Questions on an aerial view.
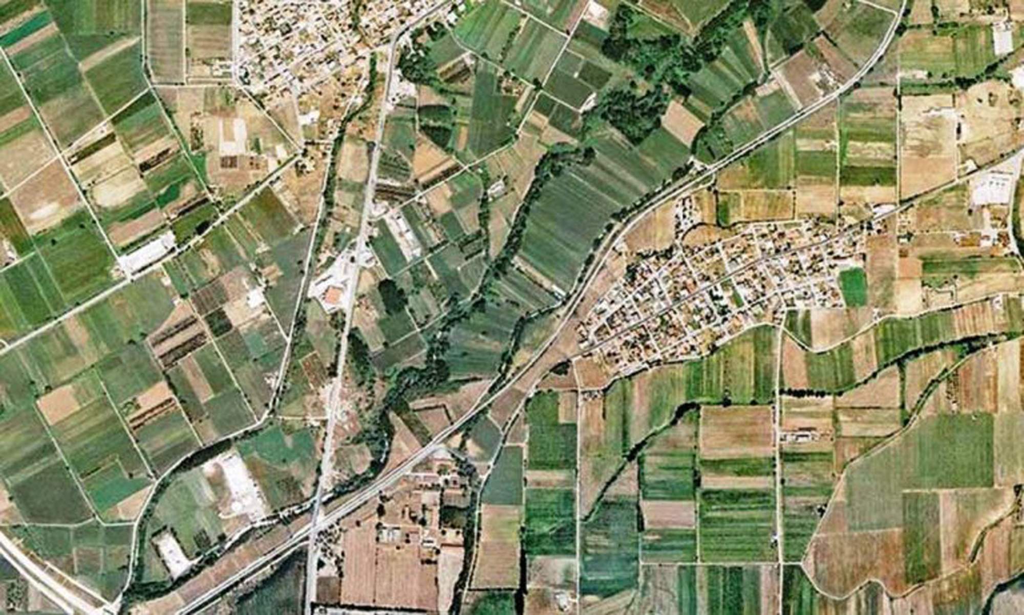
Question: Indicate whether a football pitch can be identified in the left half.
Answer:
No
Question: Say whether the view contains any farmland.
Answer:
Yes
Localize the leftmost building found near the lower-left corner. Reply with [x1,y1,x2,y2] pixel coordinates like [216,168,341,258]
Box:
[159,537,189,574]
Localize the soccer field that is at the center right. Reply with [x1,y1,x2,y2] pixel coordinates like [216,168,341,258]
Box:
[841,269,867,307]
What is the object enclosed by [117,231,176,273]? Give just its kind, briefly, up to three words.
building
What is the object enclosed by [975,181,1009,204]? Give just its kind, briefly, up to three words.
building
